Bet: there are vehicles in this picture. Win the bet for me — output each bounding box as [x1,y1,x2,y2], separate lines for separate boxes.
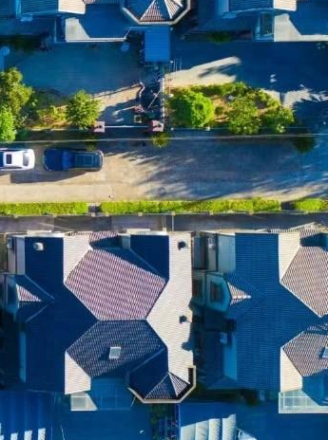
[40,145,102,173]
[0,148,34,170]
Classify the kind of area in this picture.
residential area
